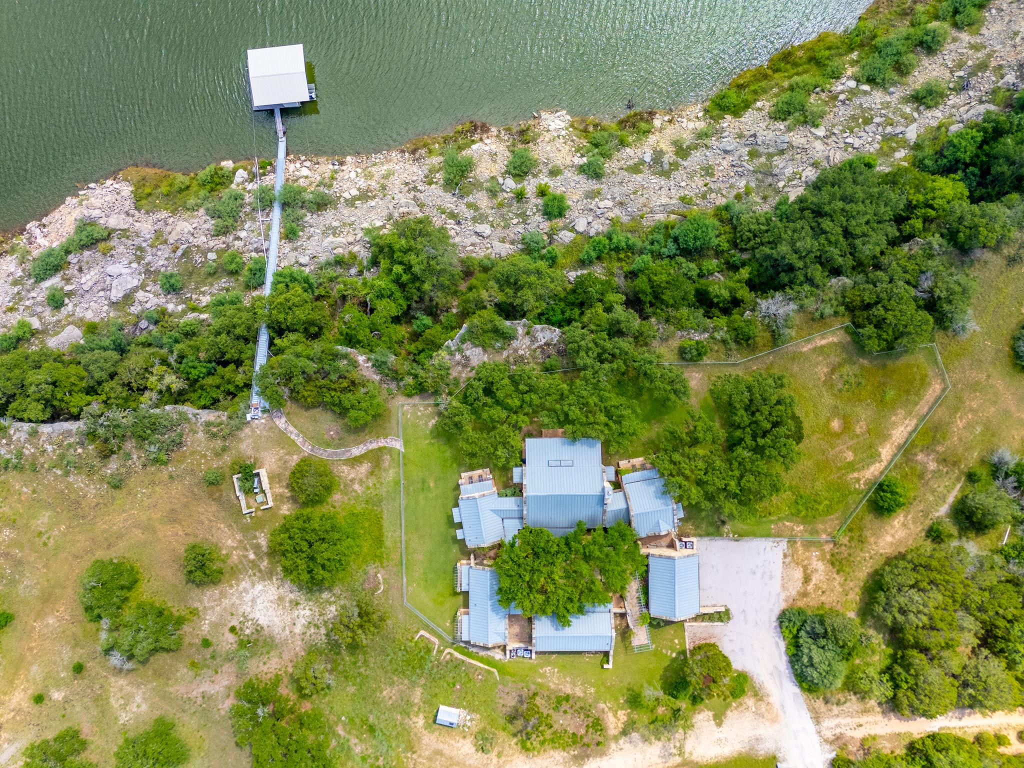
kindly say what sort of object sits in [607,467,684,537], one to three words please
building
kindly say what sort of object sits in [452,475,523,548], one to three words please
building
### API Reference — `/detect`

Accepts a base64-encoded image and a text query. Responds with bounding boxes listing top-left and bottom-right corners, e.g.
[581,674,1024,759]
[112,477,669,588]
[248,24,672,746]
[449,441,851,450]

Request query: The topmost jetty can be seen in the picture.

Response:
[245,44,310,111]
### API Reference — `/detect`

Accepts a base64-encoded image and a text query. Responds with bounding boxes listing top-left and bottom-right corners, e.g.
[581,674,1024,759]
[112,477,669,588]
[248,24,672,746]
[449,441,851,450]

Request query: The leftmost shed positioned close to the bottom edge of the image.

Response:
[437,698,461,733]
